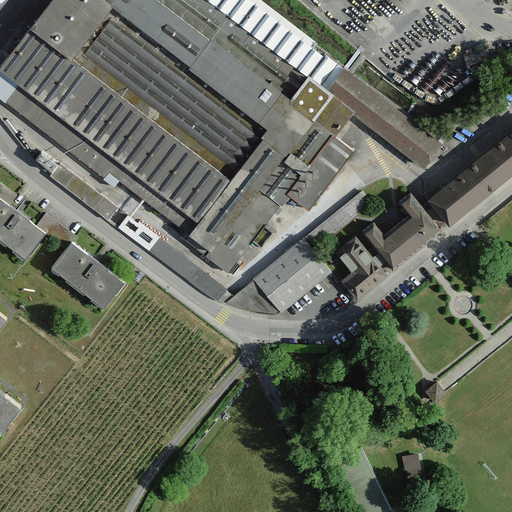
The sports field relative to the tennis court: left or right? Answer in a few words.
on the right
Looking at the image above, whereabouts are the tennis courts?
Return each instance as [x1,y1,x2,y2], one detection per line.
[336,446,392,512]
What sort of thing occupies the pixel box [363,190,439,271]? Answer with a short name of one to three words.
building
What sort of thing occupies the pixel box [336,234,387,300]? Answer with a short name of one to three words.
house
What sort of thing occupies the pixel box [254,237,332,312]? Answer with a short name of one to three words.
shed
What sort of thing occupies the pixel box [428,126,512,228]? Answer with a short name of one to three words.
building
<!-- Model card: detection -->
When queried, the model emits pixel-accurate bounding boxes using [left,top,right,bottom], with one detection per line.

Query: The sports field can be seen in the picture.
[421,343,512,512]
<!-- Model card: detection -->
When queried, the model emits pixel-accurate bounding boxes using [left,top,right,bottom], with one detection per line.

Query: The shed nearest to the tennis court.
[402,454,421,478]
